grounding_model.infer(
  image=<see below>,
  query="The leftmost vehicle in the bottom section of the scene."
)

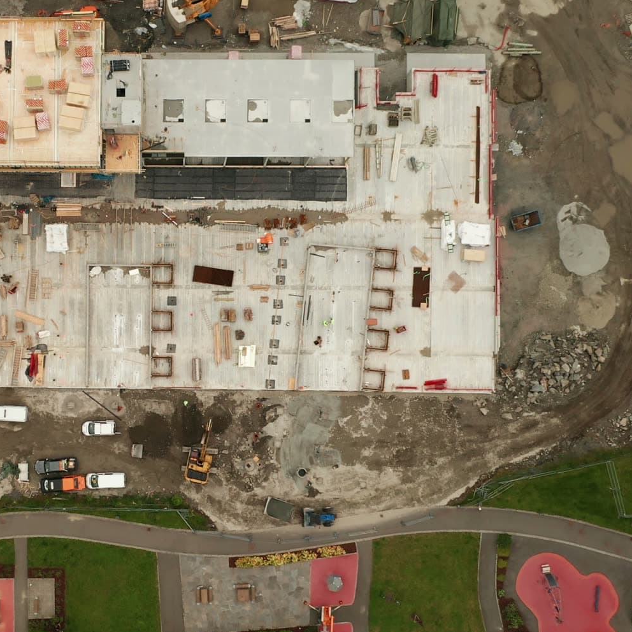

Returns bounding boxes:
[0,406,29,419]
